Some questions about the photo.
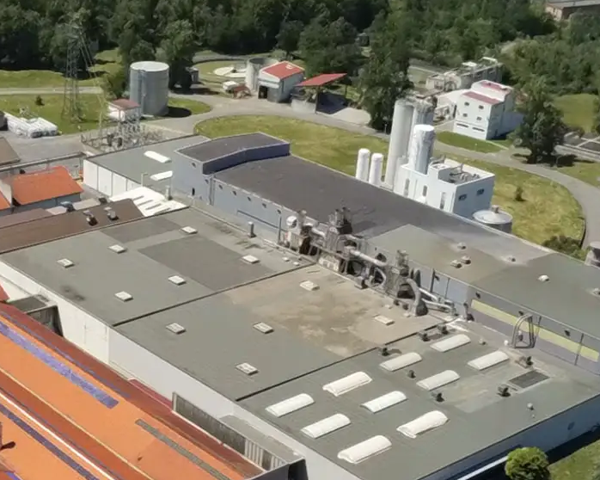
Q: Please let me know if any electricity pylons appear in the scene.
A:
Yes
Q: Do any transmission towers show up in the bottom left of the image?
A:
No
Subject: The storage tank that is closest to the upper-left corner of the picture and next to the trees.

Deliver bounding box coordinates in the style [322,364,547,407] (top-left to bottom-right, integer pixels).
[130,62,170,113]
